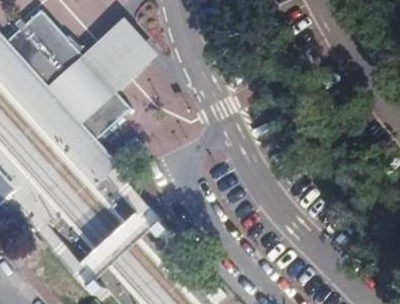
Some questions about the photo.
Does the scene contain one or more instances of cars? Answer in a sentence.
Yes, a car is visible in the scene.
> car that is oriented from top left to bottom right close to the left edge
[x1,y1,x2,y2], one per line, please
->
[0,256,14,276]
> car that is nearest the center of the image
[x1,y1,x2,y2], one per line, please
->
[210,162,229,178]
